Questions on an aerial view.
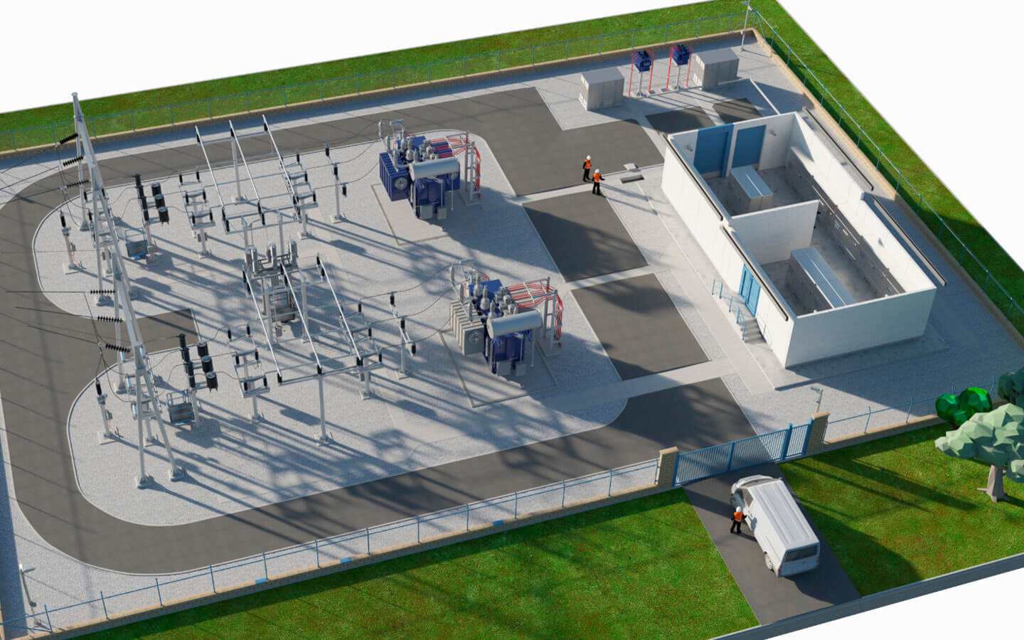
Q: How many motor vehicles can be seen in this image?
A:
1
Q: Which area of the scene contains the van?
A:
bottom right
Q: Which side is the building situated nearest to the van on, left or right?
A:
right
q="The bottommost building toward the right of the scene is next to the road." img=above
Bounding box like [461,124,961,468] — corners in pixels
[660,109,950,368]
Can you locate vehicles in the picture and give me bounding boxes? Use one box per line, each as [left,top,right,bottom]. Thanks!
[732,476,818,575]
